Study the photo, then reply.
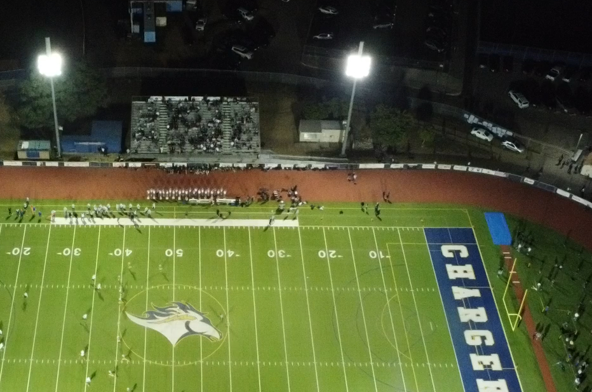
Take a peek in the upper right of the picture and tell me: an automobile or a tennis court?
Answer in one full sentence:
Looking in the upper right of the picture, you will find an automobile.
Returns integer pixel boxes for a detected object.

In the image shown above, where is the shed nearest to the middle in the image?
[299,118,345,143]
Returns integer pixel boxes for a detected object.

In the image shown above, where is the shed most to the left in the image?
[15,137,51,156]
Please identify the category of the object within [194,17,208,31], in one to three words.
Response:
car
